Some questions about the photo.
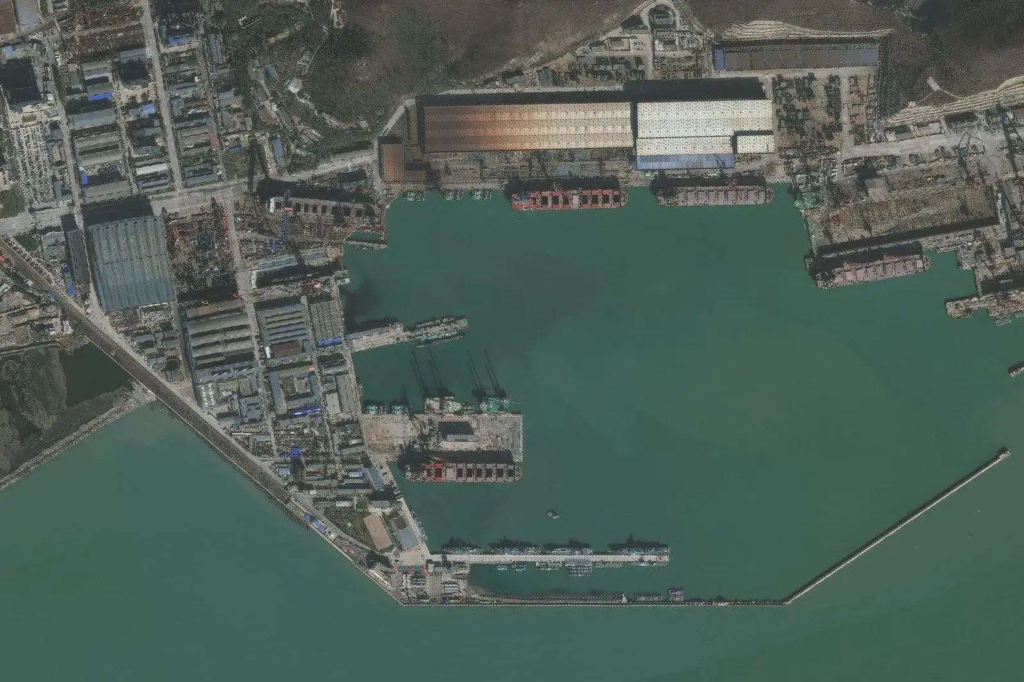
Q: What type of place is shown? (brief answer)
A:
port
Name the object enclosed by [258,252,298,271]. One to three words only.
building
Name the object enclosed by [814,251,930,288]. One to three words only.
ship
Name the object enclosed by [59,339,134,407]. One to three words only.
pond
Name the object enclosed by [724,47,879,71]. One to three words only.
shed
